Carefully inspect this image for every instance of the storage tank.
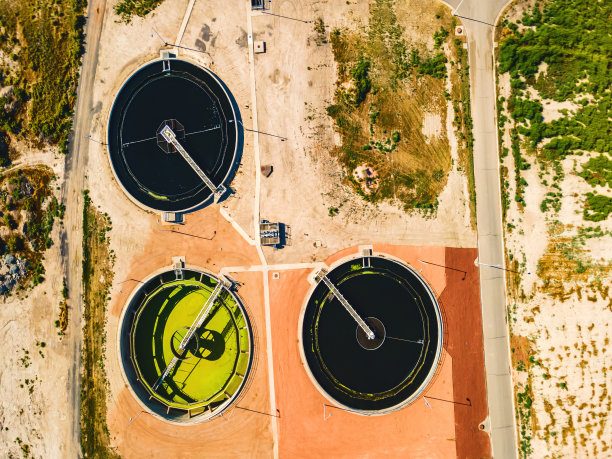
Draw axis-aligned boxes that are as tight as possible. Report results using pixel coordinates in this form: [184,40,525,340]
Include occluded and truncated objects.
[106,57,240,213]
[298,252,442,414]
[116,265,252,426]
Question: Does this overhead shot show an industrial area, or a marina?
industrial area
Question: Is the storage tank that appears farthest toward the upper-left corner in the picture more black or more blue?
black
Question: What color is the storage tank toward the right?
black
